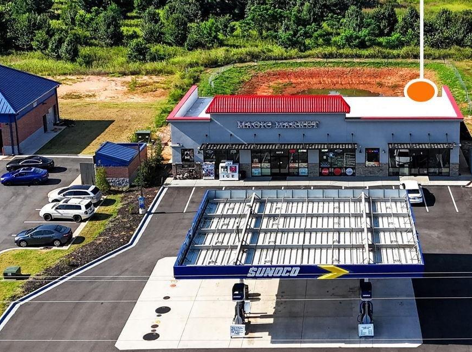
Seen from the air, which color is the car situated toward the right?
white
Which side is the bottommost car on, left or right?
left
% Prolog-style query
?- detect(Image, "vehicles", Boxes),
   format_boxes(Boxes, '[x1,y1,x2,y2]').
[400,181,423,204]
[0,165,49,184]
[49,181,103,202]
[36,195,96,221]
[3,151,56,169]
[11,221,76,246]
